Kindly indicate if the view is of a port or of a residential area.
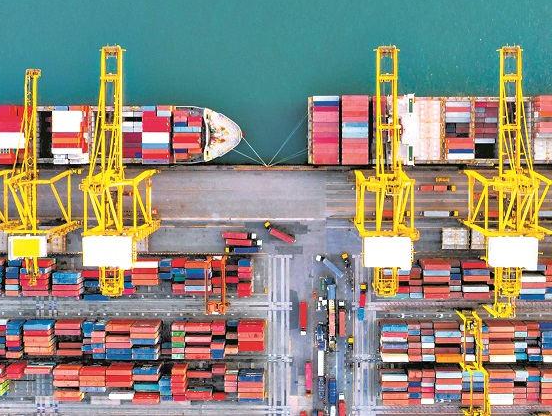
port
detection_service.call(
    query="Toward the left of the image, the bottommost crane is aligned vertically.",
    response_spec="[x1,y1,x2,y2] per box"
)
[203,255,231,316]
